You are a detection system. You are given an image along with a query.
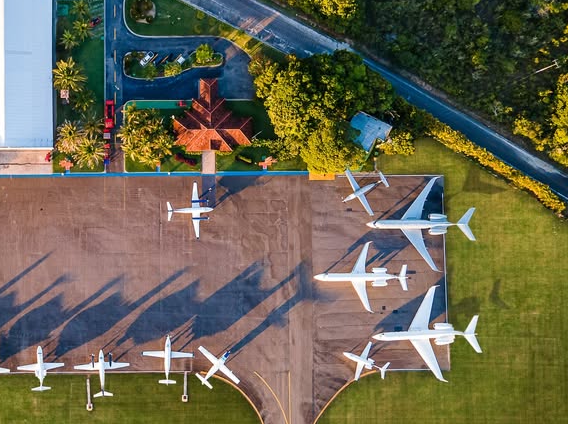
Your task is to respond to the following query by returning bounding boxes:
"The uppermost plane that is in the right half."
[340,169,390,216]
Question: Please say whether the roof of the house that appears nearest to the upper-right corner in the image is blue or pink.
blue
